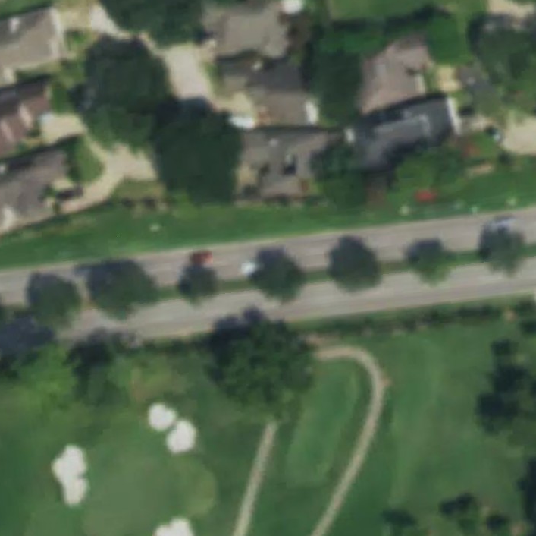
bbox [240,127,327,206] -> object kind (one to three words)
house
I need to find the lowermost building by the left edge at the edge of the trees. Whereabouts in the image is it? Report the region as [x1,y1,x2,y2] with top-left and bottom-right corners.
[0,148,89,231]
